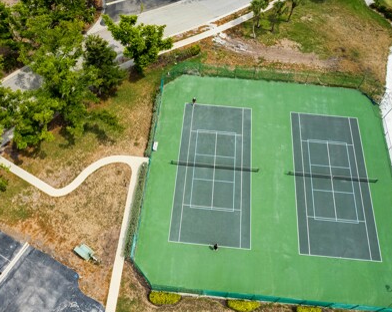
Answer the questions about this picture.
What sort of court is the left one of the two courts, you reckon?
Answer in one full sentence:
It looks like the left one of the two courts is a tennis court.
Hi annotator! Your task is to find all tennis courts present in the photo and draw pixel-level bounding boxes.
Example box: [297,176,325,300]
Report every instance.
[288,112,382,262]
[169,103,258,249]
